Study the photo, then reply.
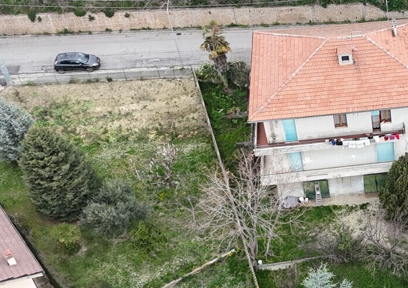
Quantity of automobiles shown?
one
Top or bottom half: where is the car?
top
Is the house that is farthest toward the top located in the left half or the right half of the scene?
right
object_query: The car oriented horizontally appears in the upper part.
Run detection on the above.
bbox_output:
[52,48,101,71]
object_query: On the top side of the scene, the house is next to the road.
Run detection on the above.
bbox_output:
[247,18,408,197]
